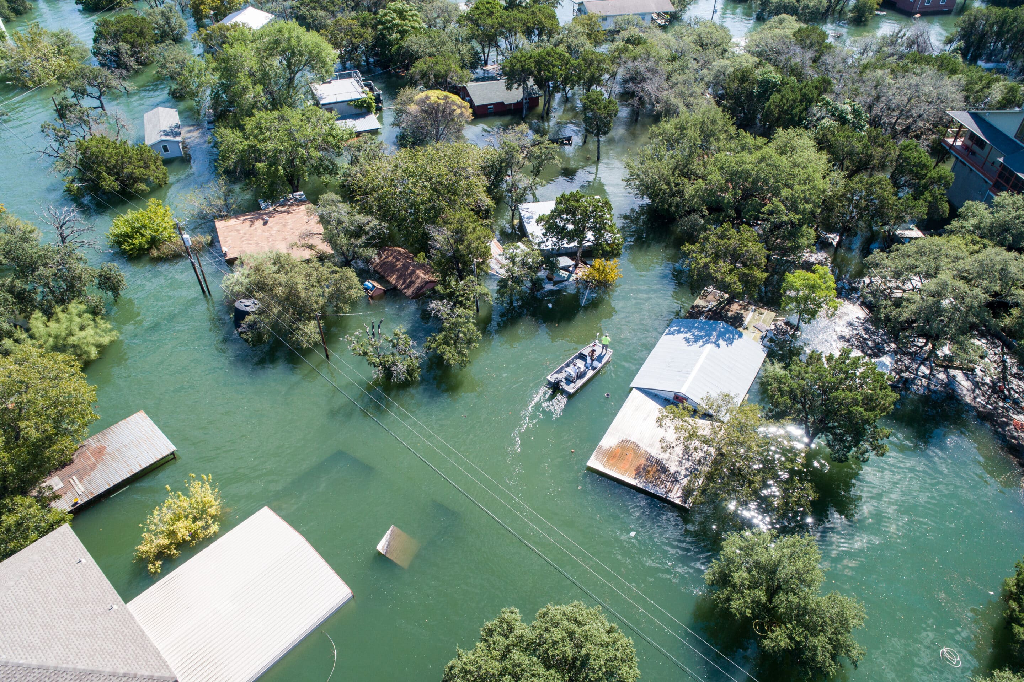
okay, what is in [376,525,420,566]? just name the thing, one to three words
shed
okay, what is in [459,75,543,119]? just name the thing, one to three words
house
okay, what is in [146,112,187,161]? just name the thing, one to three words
shed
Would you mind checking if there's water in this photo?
Yes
